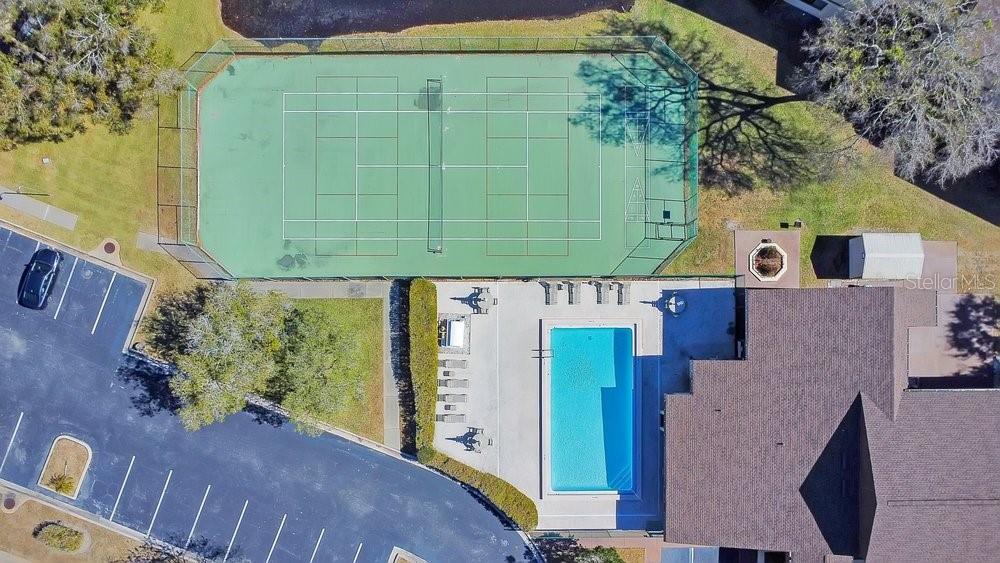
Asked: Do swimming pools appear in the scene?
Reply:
Yes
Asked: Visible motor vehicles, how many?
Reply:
1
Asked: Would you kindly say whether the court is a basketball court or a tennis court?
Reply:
tennis court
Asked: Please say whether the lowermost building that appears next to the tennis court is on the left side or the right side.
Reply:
right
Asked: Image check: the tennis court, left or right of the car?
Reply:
on the right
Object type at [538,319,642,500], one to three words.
swimming pool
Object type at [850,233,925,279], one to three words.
shed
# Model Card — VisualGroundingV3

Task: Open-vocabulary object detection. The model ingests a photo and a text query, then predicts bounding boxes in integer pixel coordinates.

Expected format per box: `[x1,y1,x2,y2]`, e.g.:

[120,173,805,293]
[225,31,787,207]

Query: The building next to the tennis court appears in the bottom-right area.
[659,288,1000,563]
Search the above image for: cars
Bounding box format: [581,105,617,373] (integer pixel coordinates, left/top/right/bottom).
[21,249,64,310]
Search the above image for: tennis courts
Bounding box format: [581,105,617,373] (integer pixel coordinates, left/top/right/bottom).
[195,50,688,276]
